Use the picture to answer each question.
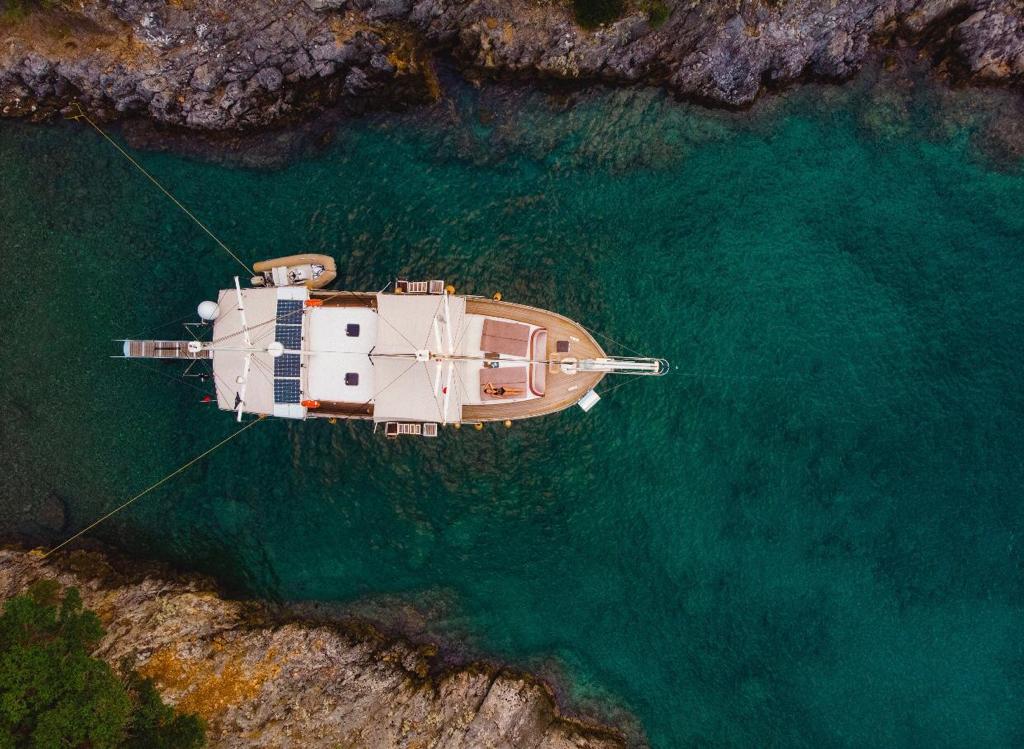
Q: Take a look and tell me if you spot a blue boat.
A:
No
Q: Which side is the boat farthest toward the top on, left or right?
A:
left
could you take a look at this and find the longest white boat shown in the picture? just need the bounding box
[110,278,669,437]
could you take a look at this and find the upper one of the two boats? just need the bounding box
[248,253,336,292]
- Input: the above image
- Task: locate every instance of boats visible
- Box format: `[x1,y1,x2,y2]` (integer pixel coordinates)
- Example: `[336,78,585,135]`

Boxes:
[248,253,336,292]
[110,278,669,437]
